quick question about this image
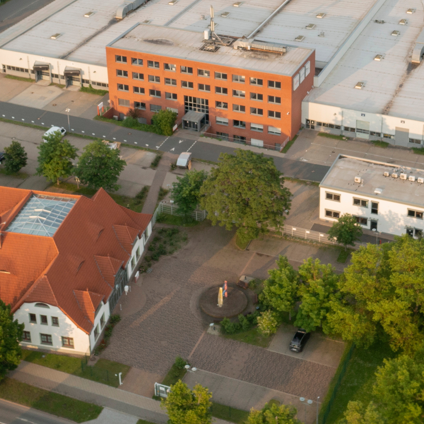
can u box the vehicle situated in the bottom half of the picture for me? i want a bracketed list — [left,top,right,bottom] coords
[290,327,309,349]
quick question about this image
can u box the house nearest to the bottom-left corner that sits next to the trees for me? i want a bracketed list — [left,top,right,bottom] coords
[0,180,158,356]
